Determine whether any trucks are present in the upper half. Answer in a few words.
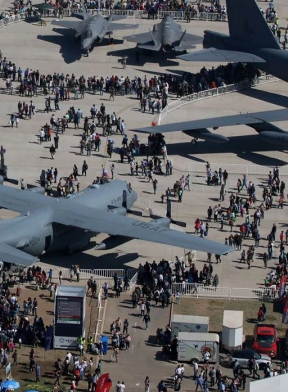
No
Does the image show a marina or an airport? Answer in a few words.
airport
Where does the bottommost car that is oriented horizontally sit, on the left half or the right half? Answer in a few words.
right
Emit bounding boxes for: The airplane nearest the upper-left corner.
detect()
[53,0,139,54]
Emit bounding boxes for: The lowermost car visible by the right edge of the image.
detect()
[226,351,275,375]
